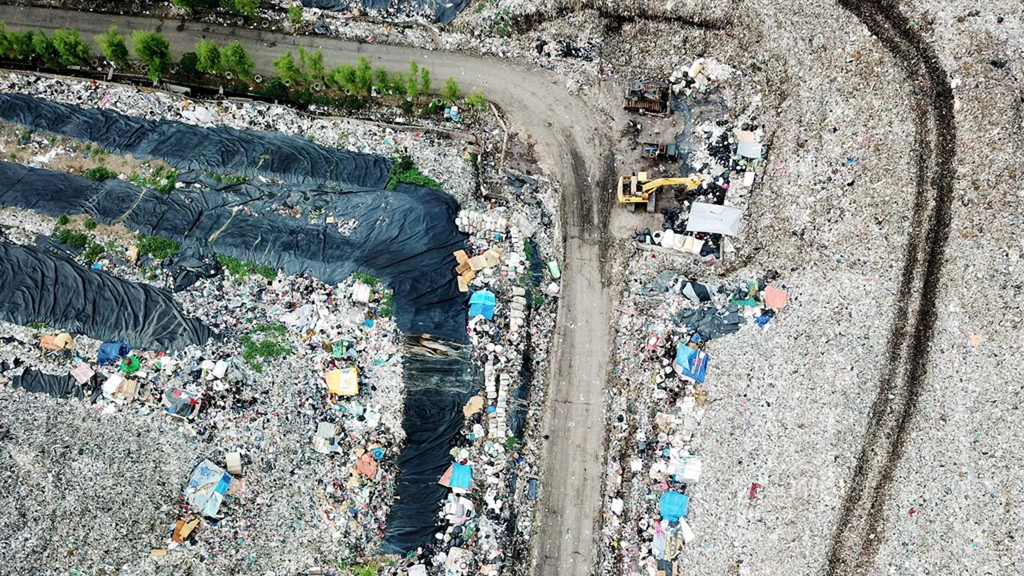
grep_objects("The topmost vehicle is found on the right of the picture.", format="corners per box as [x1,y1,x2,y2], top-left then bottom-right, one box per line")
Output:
[624,84,673,117]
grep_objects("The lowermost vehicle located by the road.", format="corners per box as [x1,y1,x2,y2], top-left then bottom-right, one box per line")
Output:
[619,174,711,211]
